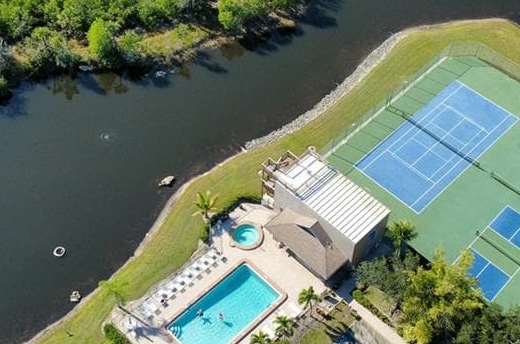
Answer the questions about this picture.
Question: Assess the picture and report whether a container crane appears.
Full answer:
No, I can't see a single container crane in this photo.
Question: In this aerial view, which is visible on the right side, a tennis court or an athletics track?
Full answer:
You can see a tennis court on the right side.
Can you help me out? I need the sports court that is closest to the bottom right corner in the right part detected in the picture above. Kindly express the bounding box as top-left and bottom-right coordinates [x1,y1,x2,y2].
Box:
[451,205,520,300]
